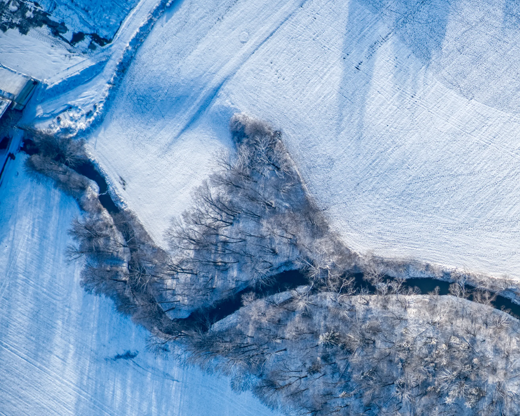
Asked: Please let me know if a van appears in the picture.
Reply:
No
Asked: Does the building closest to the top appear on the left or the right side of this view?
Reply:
left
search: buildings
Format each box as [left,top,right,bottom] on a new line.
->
[0,96,18,120]
[0,66,35,100]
